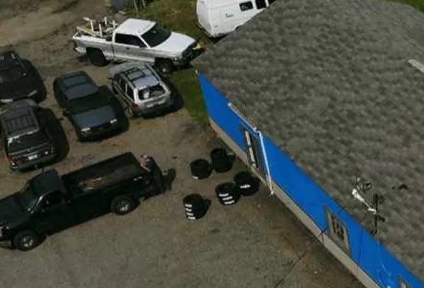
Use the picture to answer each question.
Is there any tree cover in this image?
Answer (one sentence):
No, there's no tree cover in this view.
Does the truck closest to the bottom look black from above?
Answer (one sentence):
Yes, the truck closest to the bottom is indeed black.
